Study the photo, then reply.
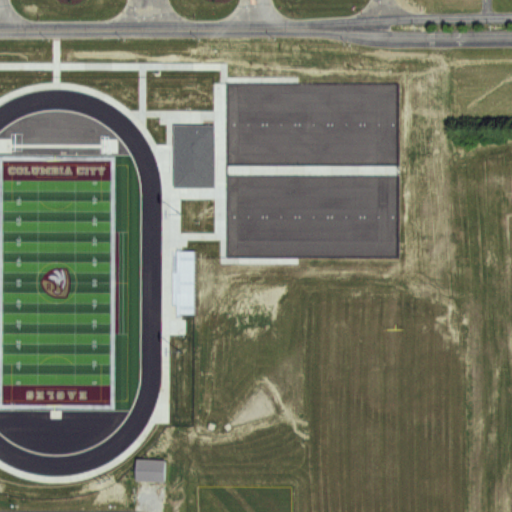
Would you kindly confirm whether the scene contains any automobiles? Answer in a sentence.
No, I find no automobile anywhere in the image.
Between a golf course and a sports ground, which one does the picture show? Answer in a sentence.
The area seen from above is a sports ground.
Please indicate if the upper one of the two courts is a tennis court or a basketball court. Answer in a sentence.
The upper one of the two courts in the image is a tennis court.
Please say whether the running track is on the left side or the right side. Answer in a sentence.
The running track is on the left side of the image.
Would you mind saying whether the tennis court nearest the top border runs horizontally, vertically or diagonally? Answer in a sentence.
In this picture, the tennis court nearest the top border lies horizontally.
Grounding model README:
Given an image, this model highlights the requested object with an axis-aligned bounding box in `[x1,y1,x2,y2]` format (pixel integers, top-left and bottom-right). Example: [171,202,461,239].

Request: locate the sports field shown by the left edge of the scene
[0,156,140,411]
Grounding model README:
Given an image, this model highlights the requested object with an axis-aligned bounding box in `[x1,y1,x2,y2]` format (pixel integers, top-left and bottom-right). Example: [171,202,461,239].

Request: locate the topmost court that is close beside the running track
[227,84,399,166]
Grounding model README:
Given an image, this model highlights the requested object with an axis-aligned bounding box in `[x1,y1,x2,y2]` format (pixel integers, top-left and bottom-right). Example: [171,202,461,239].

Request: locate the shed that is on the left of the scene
[134,460,166,483]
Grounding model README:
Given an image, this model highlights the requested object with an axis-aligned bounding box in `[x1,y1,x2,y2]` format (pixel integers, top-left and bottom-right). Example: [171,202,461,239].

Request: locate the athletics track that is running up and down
[0,91,162,475]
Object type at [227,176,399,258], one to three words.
tennis court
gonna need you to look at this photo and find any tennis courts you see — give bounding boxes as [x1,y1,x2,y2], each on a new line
[227,176,399,258]
[227,84,399,166]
